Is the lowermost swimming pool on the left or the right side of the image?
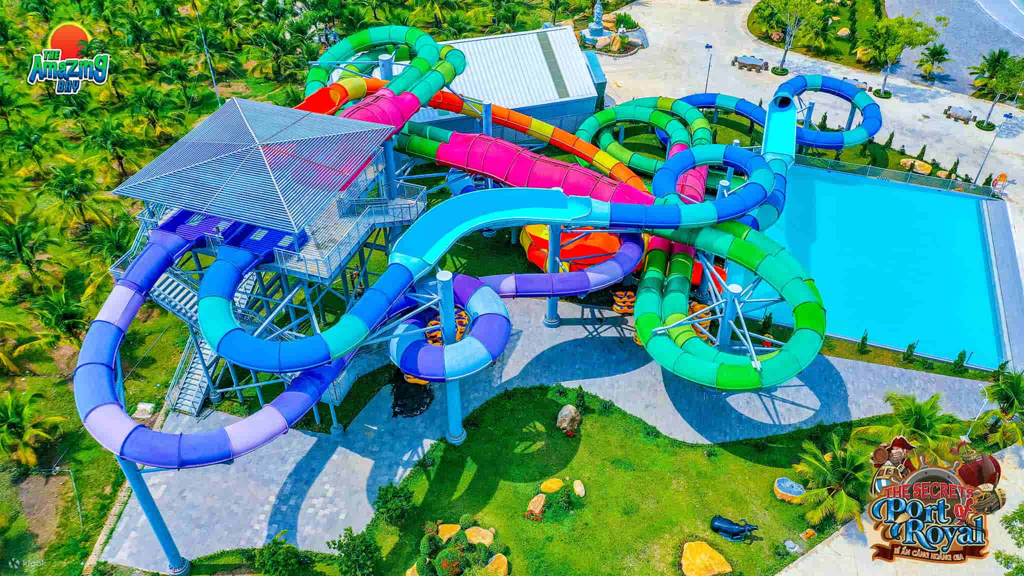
right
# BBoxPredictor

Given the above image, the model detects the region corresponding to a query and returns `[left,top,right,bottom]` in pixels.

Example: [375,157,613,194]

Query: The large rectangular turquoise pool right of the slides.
[761,162,1023,386]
